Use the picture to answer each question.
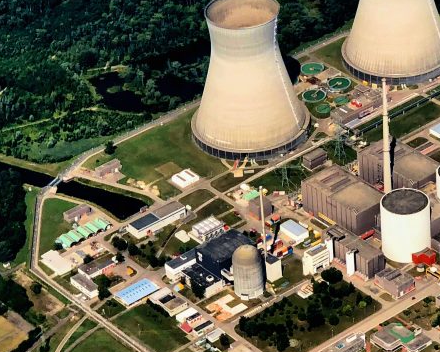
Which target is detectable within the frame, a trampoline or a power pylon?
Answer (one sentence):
I can see a power pylon in this picture.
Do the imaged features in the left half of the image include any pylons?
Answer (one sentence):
No, the scene shows no pylon in the left half of the image.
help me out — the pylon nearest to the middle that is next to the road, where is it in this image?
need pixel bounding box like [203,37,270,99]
[275,156,295,190]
